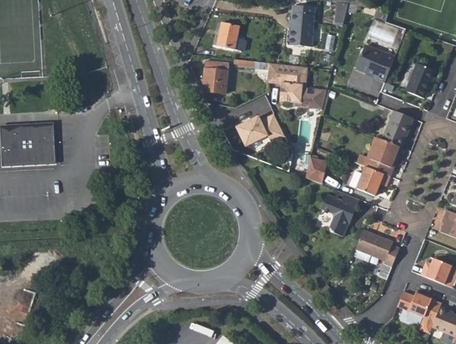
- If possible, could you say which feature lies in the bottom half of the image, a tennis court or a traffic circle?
traffic circle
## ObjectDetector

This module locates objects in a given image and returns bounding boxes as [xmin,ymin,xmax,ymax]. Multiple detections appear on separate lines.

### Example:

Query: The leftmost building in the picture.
[0,122,57,168]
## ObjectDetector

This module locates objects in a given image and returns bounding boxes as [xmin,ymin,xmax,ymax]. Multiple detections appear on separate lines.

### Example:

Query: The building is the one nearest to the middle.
[236,114,286,146]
